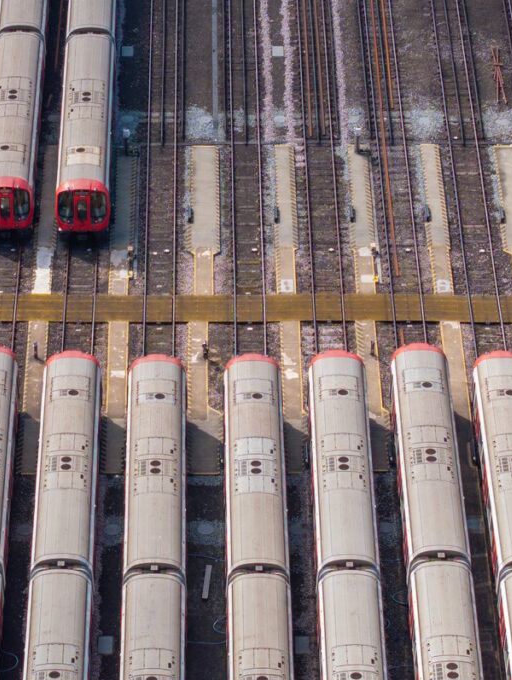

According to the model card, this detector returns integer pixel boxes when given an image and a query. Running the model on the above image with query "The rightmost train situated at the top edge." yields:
[55,0,119,244]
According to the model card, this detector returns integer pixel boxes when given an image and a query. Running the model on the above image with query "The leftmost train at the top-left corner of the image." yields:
[0,0,51,241]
